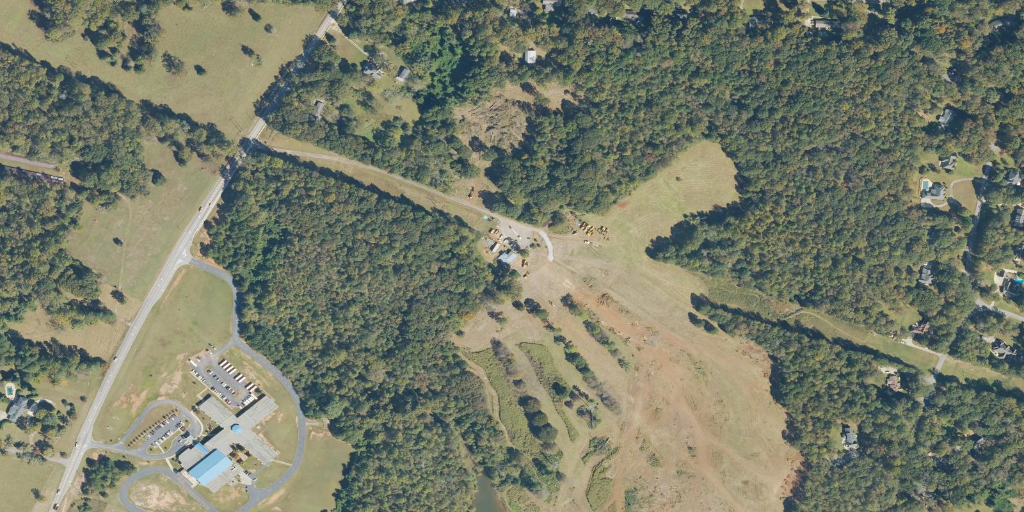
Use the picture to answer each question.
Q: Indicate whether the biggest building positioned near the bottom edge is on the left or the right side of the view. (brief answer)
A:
left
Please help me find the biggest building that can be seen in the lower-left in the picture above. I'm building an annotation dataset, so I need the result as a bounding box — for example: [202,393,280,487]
[178,395,278,493]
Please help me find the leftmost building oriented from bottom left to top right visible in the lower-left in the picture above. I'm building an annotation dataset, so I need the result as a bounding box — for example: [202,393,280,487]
[6,394,28,423]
